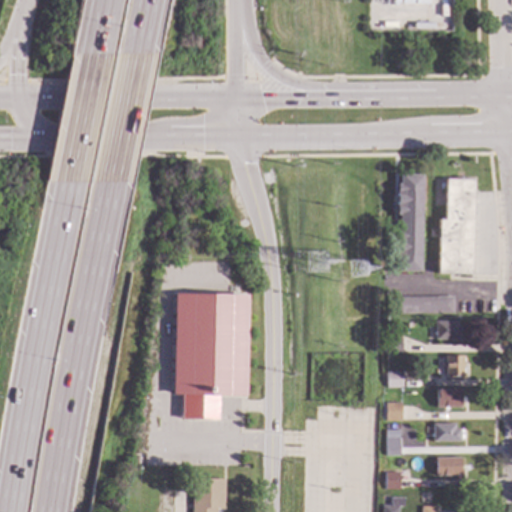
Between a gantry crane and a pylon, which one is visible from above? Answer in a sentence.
Looking from above, you can make out a pylon.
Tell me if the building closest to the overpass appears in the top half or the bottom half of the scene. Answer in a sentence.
The building closest to the overpass is in the bottom half of the image.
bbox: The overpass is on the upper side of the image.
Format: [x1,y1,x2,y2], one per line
[47,54,162,182]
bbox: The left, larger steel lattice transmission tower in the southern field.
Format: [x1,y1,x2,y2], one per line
[307,250,348,274]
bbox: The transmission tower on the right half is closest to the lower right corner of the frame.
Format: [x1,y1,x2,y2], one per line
[350,258,386,278]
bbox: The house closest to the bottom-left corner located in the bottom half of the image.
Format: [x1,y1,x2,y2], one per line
[194,478,225,512]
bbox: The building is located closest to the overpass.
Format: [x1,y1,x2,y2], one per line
[175,293,252,419]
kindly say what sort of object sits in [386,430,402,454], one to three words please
building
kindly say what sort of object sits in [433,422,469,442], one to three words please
house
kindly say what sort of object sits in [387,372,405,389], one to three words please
building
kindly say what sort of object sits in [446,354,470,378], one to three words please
house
